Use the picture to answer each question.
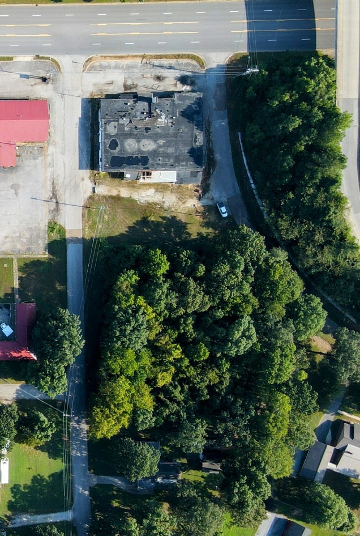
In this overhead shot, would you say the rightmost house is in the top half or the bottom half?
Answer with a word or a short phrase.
bottom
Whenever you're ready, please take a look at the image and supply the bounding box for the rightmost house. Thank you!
[328,423,360,478]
